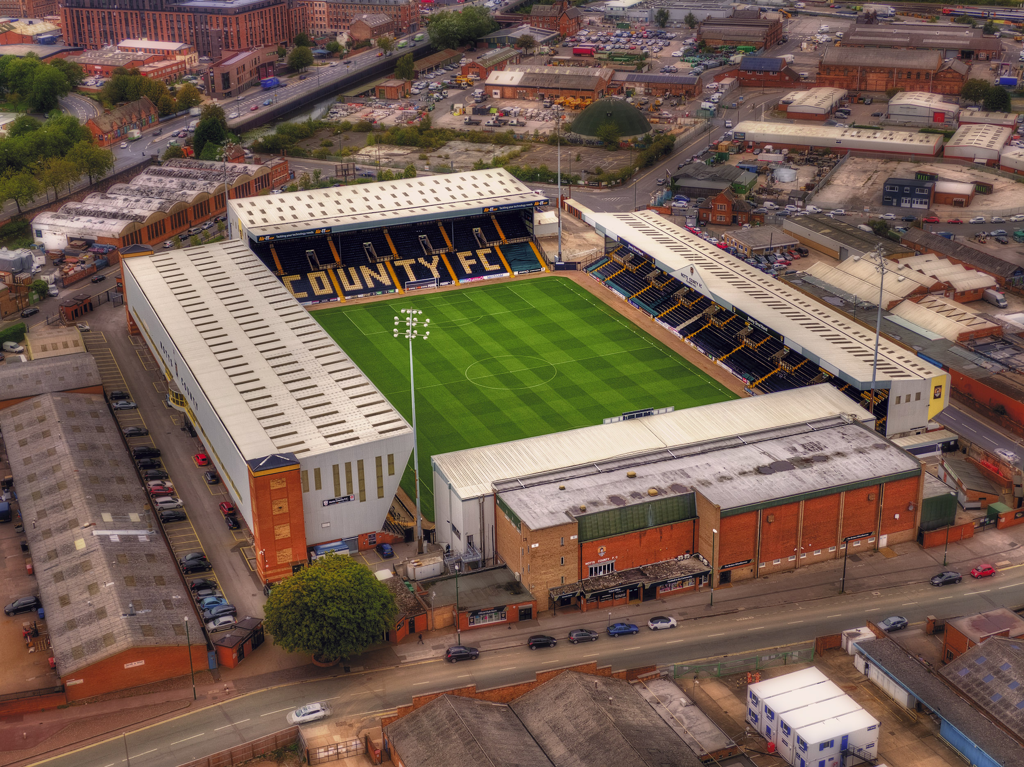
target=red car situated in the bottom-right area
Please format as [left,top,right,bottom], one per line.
[970,564,997,580]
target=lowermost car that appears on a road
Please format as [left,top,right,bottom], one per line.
[291,702,328,725]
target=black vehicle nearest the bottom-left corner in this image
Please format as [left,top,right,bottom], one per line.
[7,596,40,616]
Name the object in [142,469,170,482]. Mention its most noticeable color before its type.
black vehicle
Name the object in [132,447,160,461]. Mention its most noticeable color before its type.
black car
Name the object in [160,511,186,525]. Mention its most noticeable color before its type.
black car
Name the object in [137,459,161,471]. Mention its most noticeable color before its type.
black vehicle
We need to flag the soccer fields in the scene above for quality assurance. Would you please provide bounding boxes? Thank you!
[310,276,741,518]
